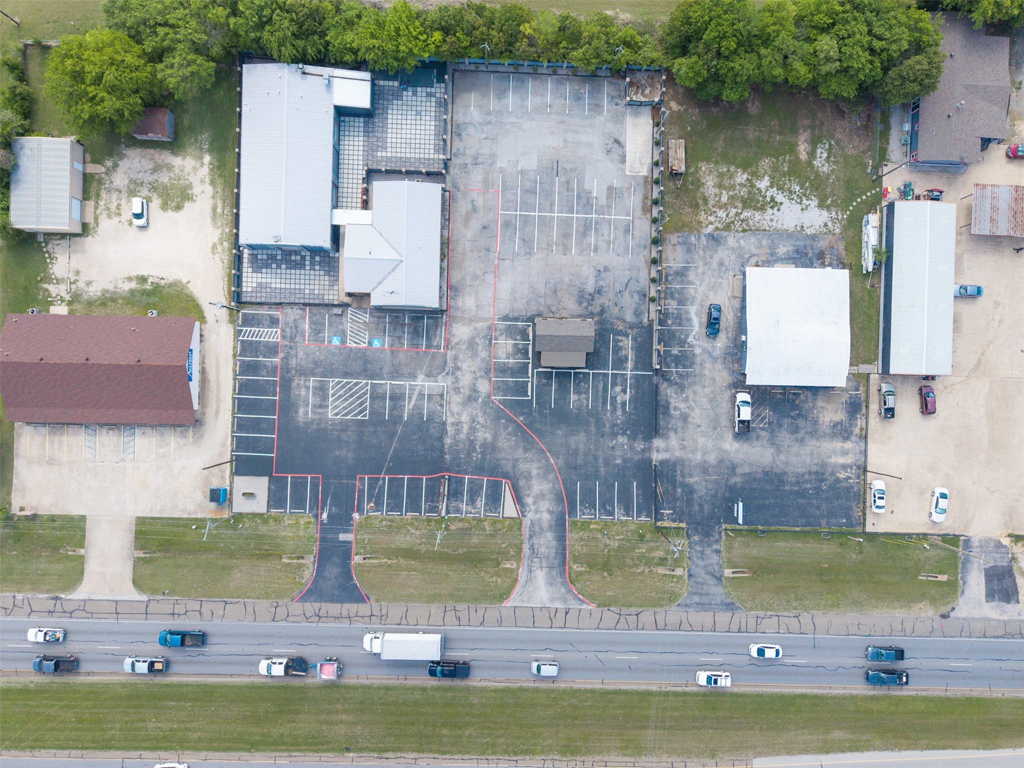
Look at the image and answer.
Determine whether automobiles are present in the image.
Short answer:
Yes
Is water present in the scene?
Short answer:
No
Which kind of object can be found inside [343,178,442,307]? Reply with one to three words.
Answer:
building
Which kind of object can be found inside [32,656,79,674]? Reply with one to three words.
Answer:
vehicle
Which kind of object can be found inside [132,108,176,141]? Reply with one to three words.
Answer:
shed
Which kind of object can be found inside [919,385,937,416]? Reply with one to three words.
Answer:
car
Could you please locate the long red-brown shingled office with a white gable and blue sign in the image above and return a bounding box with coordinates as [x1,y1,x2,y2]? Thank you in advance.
[0,314,200,424]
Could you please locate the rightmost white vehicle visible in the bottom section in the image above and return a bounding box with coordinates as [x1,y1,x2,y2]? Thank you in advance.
[929,488,948,522]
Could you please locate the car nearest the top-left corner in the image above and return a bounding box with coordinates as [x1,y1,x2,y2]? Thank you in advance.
[132,198,149,227]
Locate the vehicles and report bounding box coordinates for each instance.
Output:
[531,661,559,677]
[919,385,937,416]
[1006,143,1024,160]
[153,760,188,768]
[954,283,985,299]
[706,303,722,337]
[865,668,909,686]
[363,636,443,662]
[26,627,67,645]
[865,645,905,662]
[157,629,206,648]
[870,480,887,514]
[878,382,896,420]
[749,643,783,660]
[428,660,470,678]
[929,488,948,522]
[696,670,732,688]
[132,198,149,227]
[123,657,169,675]
[32,656,79,674]
[259,657,304,676]
[735,392,753,434]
